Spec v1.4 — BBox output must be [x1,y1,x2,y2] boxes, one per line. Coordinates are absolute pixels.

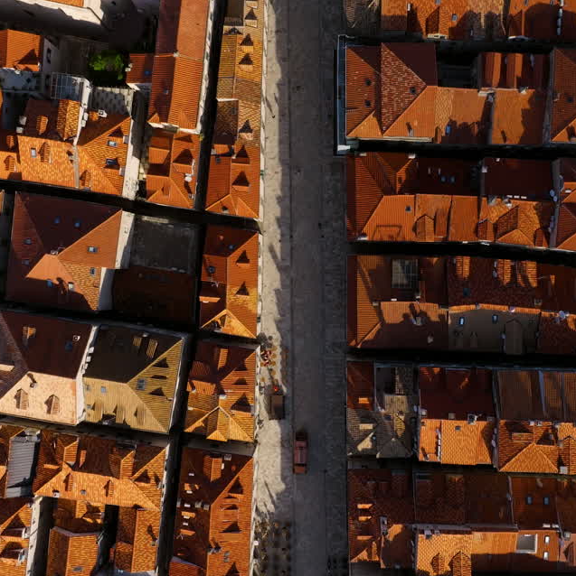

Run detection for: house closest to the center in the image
[201,225,265,338]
